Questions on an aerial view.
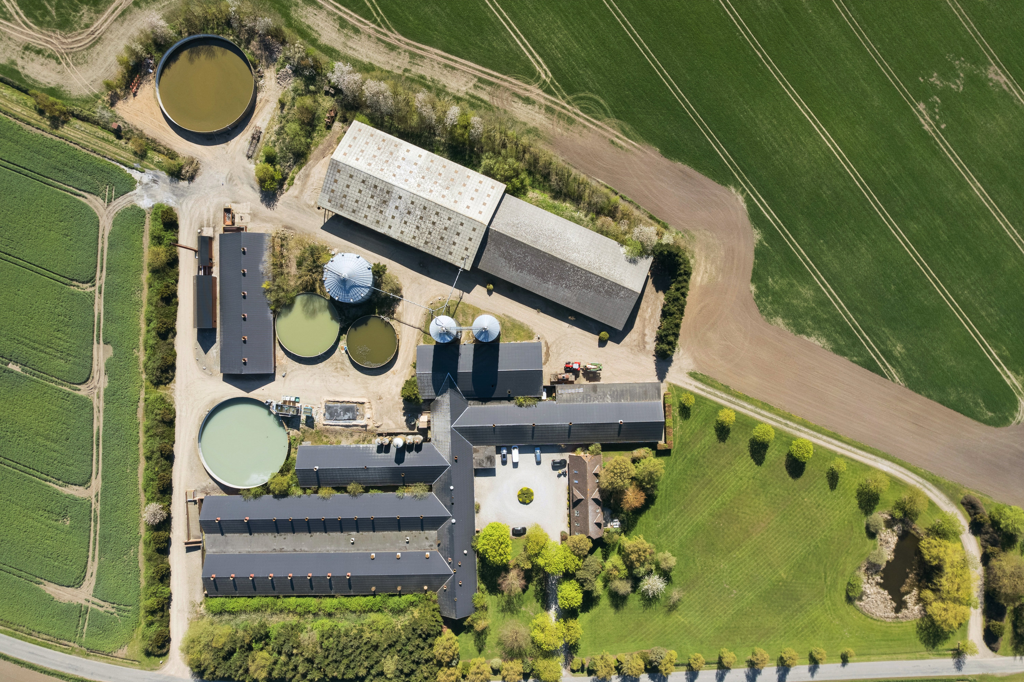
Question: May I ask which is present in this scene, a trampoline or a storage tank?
storage tank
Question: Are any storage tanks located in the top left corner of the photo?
Yes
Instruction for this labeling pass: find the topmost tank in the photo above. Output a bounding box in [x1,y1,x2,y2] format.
[155,33,257,135]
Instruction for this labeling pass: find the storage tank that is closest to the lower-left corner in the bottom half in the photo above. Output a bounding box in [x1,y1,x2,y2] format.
[198,397,292,488]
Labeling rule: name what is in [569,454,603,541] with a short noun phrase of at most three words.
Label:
house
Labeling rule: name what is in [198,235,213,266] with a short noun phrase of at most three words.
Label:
shed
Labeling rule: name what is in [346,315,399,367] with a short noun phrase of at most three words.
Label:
storage tank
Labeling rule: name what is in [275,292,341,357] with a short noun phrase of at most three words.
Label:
storage tank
